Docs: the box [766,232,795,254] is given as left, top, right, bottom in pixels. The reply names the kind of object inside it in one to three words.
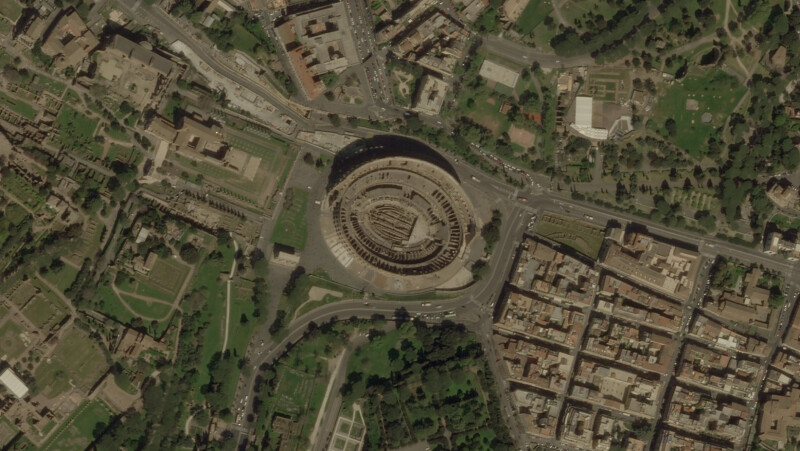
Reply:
building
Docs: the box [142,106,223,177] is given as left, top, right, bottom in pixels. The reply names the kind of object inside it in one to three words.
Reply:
building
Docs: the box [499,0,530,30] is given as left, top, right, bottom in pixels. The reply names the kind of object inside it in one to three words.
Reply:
house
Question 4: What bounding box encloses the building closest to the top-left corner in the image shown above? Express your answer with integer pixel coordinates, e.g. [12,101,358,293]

[16,16,46,50]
